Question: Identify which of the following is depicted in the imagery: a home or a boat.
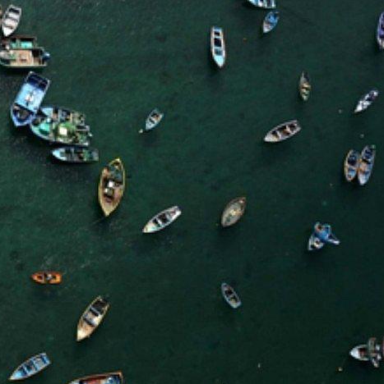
boat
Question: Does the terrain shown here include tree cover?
No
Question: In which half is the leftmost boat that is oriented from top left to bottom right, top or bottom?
bottom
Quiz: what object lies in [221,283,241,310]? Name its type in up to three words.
boat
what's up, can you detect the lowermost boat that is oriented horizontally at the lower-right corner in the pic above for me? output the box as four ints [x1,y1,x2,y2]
[349,345,384,361]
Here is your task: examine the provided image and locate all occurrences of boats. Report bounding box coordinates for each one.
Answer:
[72,374,124,384]
[297,71,312,101]
[221,283,241,310]
[349,345,384,361]
[375,10,384,49]
[144,108,163,131]
[9,353,49,382]
[357,145,375,185]
[342,149,359,182]
[78,297,110,343]
[99,158,126,217]
[263,118,302,140]
[30,116,95,149]
[142,205,183,231]
[52,146,99,161]
[210,26,226,67]
[368,337,377,366]
[2,3,22,35]
[1,33,38,50]
[306,219,332,251]
[323,233,342,244]
[222,195,248,228]
[32,270,61,284]
[353,88,377,113]
[248,0,276,8]
[41,103,87,123]
[262,8,280,33]
[0,45,50,68]
[10,69,50,129]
